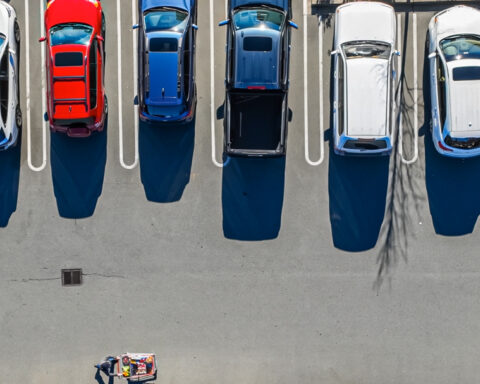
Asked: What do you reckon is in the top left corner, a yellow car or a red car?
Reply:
red car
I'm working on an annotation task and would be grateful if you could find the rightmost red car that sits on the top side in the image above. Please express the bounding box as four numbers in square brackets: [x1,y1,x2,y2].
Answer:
[38,0,104,139]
